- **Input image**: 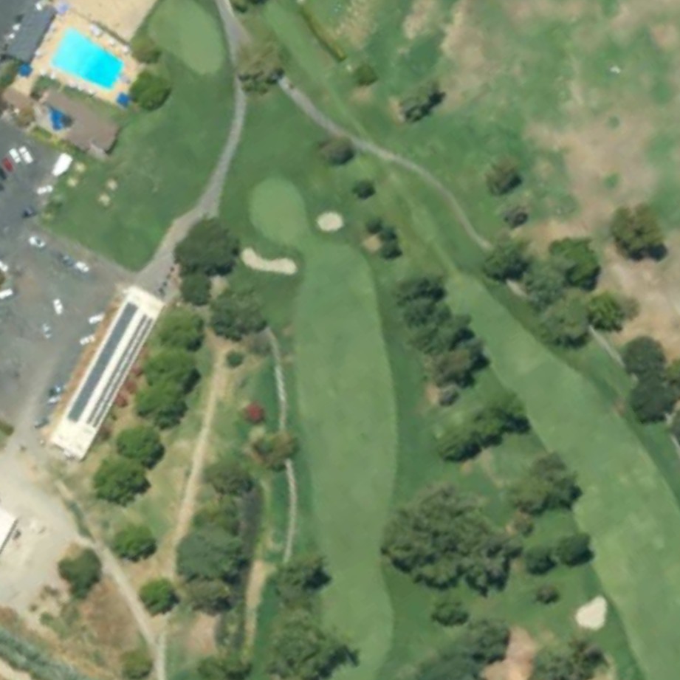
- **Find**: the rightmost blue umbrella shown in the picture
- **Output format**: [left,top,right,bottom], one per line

[114,91,130,107]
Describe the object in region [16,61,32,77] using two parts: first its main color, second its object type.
blue umbrella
